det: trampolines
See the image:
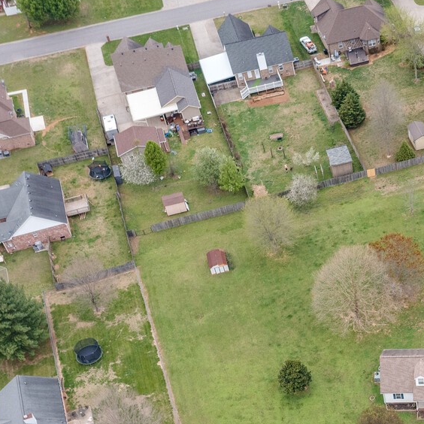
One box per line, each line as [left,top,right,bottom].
[86,157,110,180]
[72,337,102,365]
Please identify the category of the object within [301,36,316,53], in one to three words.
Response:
vehicle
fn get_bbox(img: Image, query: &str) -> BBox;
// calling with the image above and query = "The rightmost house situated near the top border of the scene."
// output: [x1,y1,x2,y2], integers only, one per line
[309,0,390,56]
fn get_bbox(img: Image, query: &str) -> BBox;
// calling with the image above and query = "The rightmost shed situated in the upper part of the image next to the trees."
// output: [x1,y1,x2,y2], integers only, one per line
[406,122,424,148]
